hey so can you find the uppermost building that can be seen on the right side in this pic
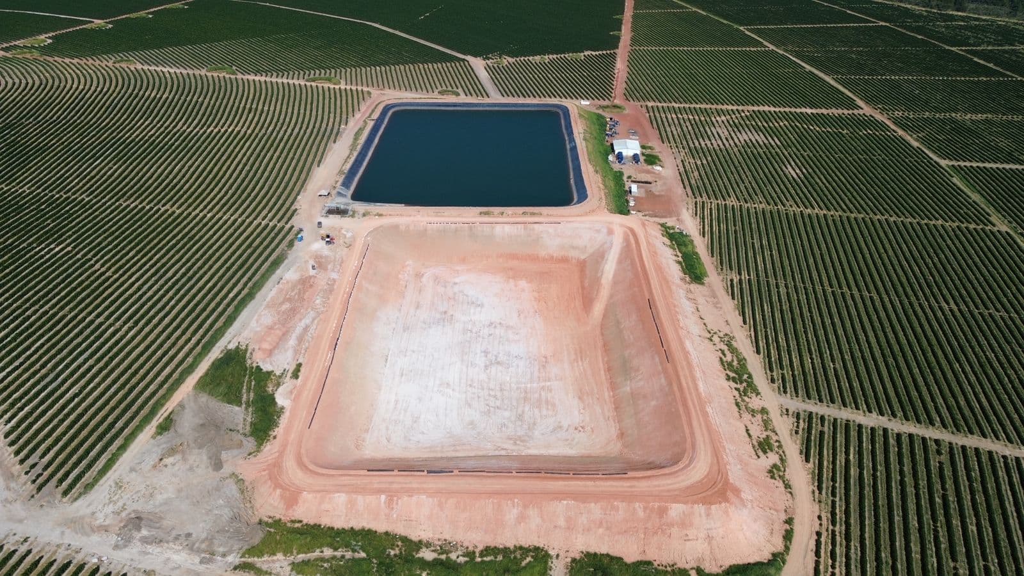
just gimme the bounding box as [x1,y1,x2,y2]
[612,139,641,159]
